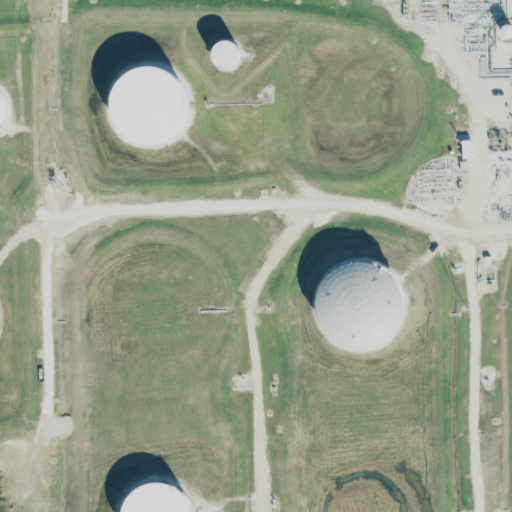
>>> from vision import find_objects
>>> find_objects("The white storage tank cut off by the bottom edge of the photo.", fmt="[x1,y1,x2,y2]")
[119,477,193,512]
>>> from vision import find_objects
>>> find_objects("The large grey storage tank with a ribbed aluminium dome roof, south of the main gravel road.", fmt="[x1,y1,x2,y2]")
[316,256,406,350]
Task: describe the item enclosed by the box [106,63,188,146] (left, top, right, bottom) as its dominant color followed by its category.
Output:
white storage tank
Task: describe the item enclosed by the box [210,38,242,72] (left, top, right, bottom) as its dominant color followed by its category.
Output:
white storage tank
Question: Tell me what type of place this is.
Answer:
industrial area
